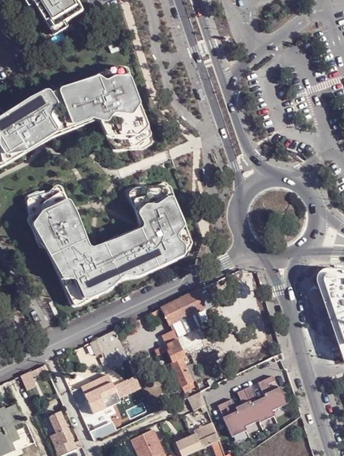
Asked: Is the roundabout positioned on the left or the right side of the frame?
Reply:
right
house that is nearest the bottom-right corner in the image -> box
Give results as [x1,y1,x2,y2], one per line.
[218,376,288,442]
